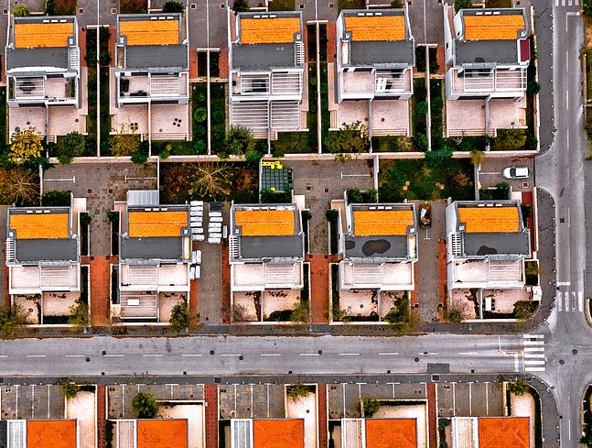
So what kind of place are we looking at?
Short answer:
residential area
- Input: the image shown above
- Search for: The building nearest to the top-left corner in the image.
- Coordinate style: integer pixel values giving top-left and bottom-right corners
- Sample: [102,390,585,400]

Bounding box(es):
[6,17,85,141]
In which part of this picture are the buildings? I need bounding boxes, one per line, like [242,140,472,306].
[339,203,415,316]
[230,12,307,135]
[329,10,412,136]
[6,17,85,141]
[336,417,416,448]
[228,204,301,317]
[114,418,187,448]
[226,418,304,448]
[108,15,188,141]
[445,417,529,448]
[119,205,191,318]
[448,9,528,135]
[5,207,80,319]
[447,200,524,313]
[5,419,78,448]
